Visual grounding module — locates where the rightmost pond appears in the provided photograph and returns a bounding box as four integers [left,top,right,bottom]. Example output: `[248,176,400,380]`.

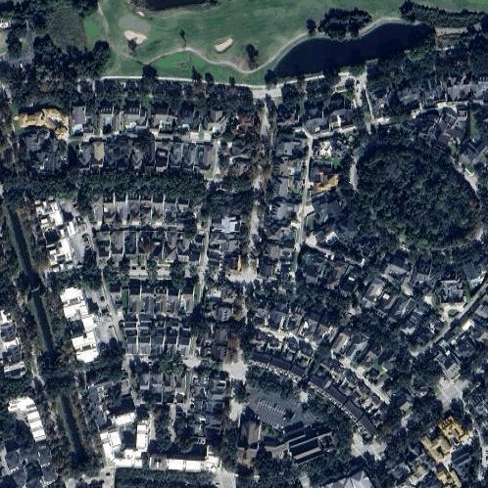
[273,23,432,73]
